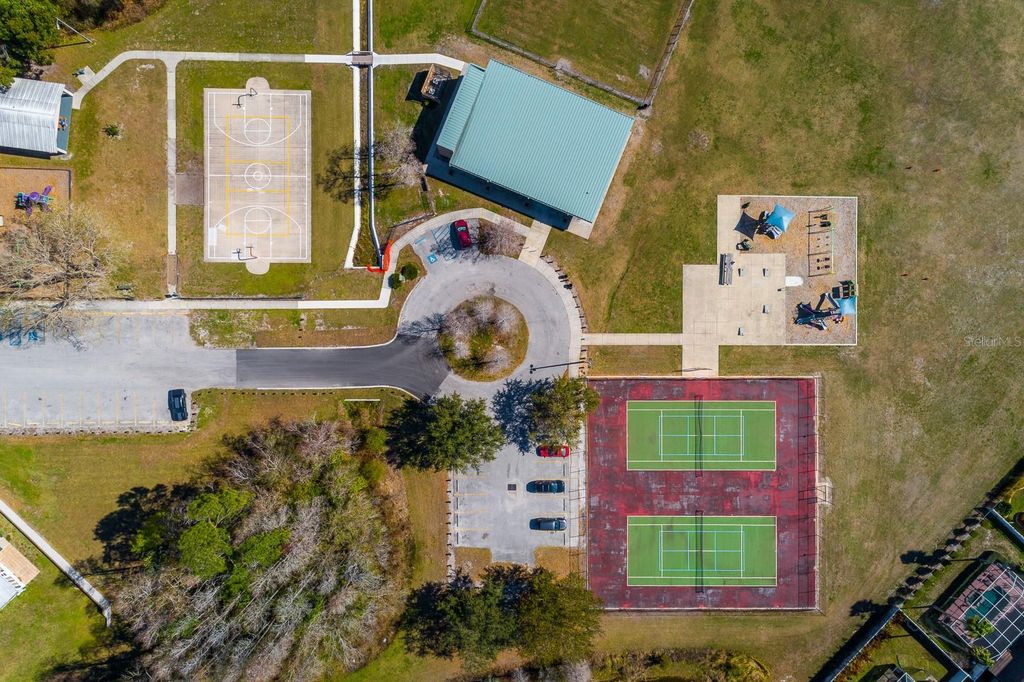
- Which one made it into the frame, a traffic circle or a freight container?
traffic circle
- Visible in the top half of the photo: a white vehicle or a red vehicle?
red vehicle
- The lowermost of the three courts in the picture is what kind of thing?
tennis court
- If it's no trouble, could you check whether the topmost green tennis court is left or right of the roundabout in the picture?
to the right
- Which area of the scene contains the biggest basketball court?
top left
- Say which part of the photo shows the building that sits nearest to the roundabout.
top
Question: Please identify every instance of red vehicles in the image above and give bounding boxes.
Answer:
[540,445,569,459]
[454,219,471,250]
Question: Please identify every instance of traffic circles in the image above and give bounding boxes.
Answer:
[394,251,571,426]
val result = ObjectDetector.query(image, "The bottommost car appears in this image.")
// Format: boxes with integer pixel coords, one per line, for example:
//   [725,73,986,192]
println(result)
[534,518,565,533]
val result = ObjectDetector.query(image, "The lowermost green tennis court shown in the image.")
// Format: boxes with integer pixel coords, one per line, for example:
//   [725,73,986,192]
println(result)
[627,512,777,591]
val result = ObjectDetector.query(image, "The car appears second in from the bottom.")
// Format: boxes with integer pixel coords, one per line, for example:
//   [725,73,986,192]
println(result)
[533,480,564,495]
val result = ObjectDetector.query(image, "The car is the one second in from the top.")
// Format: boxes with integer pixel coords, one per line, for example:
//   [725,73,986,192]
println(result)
[171,389,189,421]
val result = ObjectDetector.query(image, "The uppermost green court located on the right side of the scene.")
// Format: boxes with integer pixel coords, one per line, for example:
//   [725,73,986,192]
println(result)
[627,397,777,475]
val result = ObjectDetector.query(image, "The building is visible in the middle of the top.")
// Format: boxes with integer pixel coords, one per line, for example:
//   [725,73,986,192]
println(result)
[437,60,636,224]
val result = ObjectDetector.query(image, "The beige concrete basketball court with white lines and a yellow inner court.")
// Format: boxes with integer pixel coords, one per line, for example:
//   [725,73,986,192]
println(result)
[204,77,311,274]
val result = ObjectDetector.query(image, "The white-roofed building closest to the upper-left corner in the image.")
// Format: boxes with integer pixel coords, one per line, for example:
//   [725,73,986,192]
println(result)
[0,78,74,155]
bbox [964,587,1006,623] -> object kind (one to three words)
swimming pool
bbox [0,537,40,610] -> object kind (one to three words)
house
